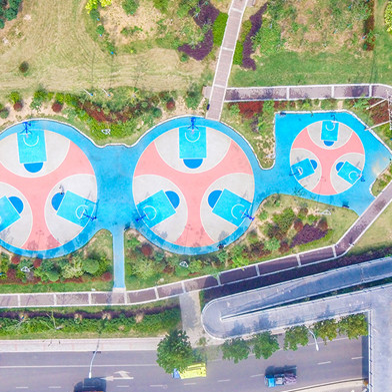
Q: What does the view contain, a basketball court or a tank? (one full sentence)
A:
I can see a basketball court in this picture.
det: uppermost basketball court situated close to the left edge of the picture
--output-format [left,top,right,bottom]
[0,129,98,251]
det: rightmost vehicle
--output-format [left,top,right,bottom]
[263,370,296,388]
